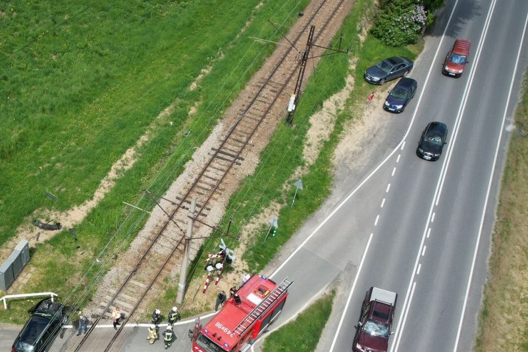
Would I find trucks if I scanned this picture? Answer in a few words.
Yes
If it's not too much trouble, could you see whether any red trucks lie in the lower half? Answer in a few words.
Yes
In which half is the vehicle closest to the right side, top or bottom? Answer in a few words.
top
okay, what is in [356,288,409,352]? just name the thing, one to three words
truck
